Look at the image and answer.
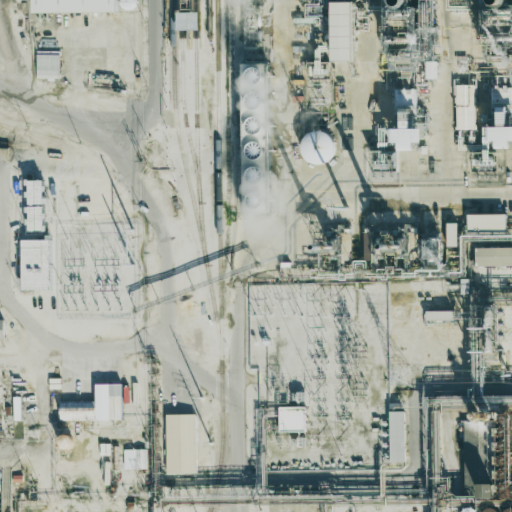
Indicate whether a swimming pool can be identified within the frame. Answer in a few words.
No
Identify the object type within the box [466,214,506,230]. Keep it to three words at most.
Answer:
building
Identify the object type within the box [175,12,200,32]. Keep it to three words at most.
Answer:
shed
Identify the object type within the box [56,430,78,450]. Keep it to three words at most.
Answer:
silo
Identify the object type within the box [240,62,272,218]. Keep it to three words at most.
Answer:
cooling tower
